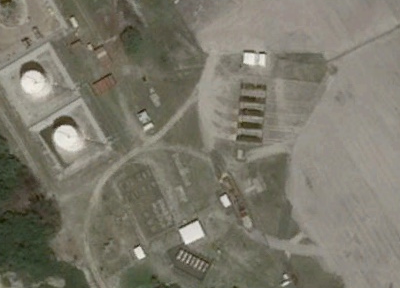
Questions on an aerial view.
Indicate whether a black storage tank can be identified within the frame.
No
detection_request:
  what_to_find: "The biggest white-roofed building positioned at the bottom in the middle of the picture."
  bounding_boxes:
[178,220,205,246]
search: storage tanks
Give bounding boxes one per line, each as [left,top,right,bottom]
[53,124,84,155]
[20,70,52,101]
